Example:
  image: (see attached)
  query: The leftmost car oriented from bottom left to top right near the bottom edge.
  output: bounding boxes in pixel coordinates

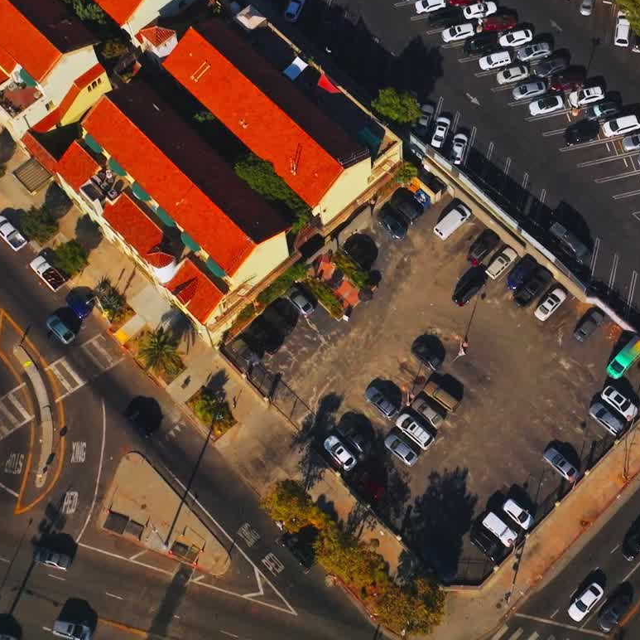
[568,582,605,622]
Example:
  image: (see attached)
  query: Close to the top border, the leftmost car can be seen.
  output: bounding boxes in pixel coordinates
[285,0,306,26]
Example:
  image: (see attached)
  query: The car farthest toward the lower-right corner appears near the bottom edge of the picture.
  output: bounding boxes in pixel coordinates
[597,588,634,629]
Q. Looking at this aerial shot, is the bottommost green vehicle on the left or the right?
right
